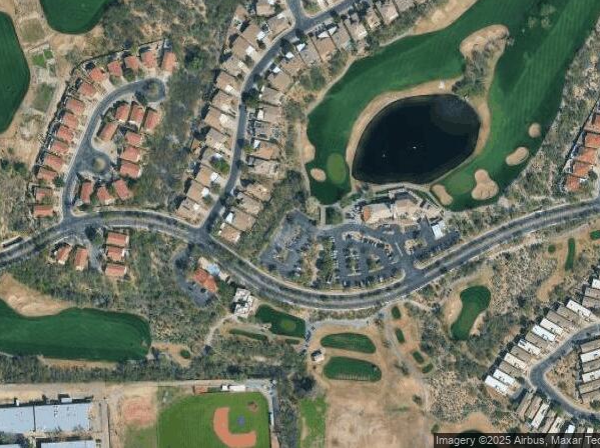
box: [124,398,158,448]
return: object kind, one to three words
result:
baseball field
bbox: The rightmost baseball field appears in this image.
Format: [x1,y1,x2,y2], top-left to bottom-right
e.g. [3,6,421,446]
[158,391,272,448]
